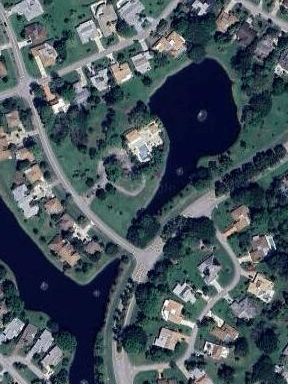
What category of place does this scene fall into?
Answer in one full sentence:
What you see here is a residential area.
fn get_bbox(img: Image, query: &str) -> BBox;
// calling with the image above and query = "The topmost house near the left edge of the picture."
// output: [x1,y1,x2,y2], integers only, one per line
[11,0,47,20]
